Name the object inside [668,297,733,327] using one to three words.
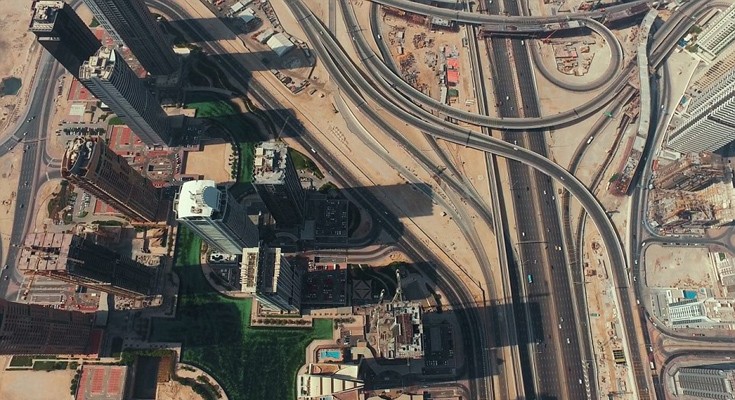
building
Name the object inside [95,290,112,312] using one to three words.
building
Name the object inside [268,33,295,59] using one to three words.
tent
